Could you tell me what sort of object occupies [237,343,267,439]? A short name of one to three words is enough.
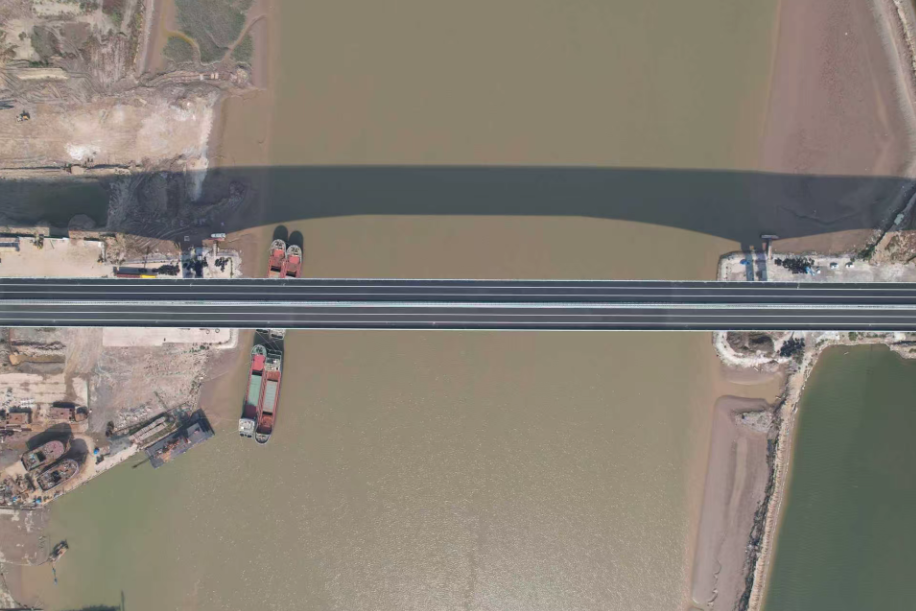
ship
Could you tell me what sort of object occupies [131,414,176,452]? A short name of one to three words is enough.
ship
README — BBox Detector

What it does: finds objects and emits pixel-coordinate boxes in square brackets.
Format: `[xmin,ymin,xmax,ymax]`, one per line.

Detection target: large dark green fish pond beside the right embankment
[763,344,916,611]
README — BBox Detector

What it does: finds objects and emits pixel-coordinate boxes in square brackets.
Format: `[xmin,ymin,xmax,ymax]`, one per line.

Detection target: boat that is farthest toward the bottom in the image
[49,542,70,561]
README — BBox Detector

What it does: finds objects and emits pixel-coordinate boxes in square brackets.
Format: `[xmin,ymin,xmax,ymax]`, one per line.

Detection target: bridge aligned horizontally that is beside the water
[0,278,916,331]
